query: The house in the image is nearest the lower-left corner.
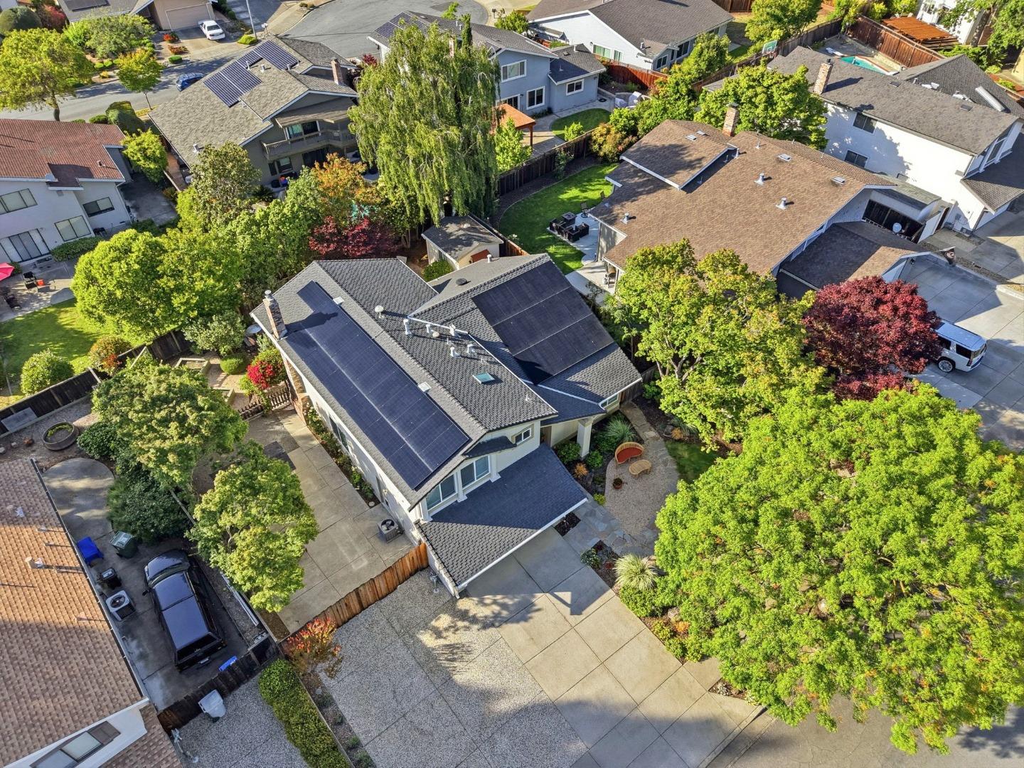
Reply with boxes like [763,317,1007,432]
[0,453,185,768]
